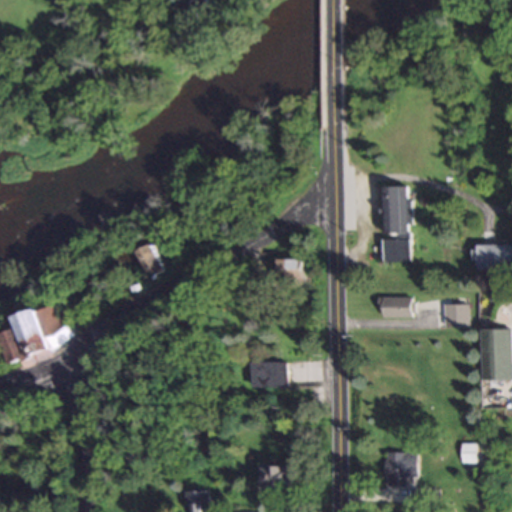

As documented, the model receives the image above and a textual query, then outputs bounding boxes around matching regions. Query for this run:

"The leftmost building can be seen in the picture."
[0,306,74,369]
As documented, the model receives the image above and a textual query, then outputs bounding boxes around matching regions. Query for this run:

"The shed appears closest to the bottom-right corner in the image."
[462,444,482,466]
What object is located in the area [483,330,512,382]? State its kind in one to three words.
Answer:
building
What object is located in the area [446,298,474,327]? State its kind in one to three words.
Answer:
building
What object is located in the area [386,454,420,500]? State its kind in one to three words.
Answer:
house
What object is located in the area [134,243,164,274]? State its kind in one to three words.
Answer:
house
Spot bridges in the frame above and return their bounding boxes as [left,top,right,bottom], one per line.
[320,0,349,128]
